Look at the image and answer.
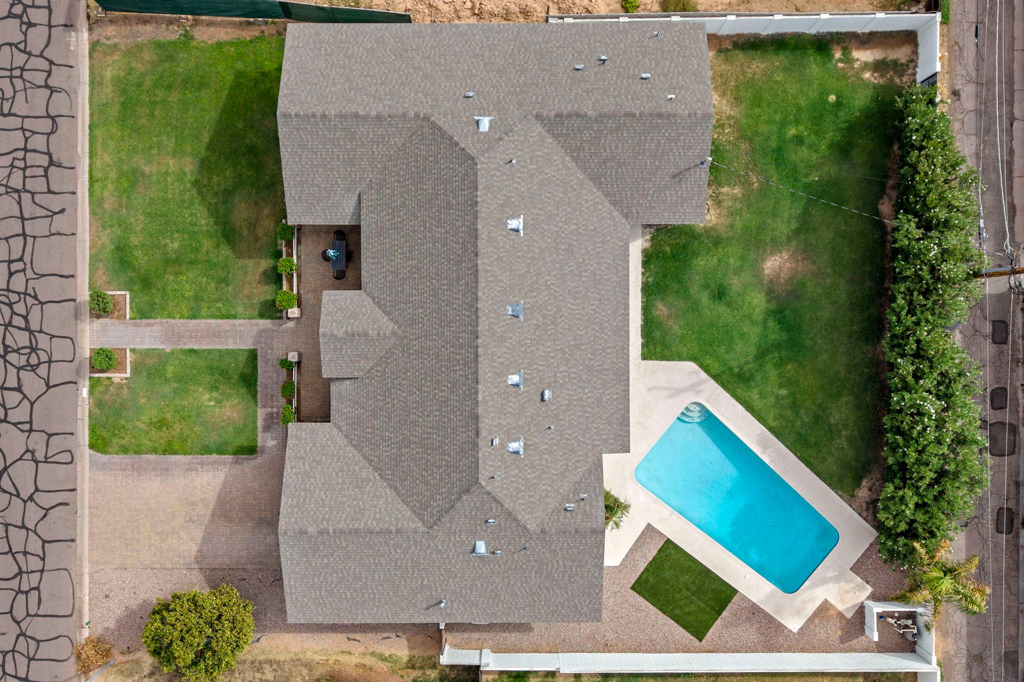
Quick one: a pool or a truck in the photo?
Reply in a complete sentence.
Looking from above, you can make out a pool.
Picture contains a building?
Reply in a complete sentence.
Yes, a building is visible in the scene.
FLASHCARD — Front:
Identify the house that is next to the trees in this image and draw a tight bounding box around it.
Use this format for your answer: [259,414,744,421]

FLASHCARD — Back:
[277,22,714,623]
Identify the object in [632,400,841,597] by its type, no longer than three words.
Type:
swimming pool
